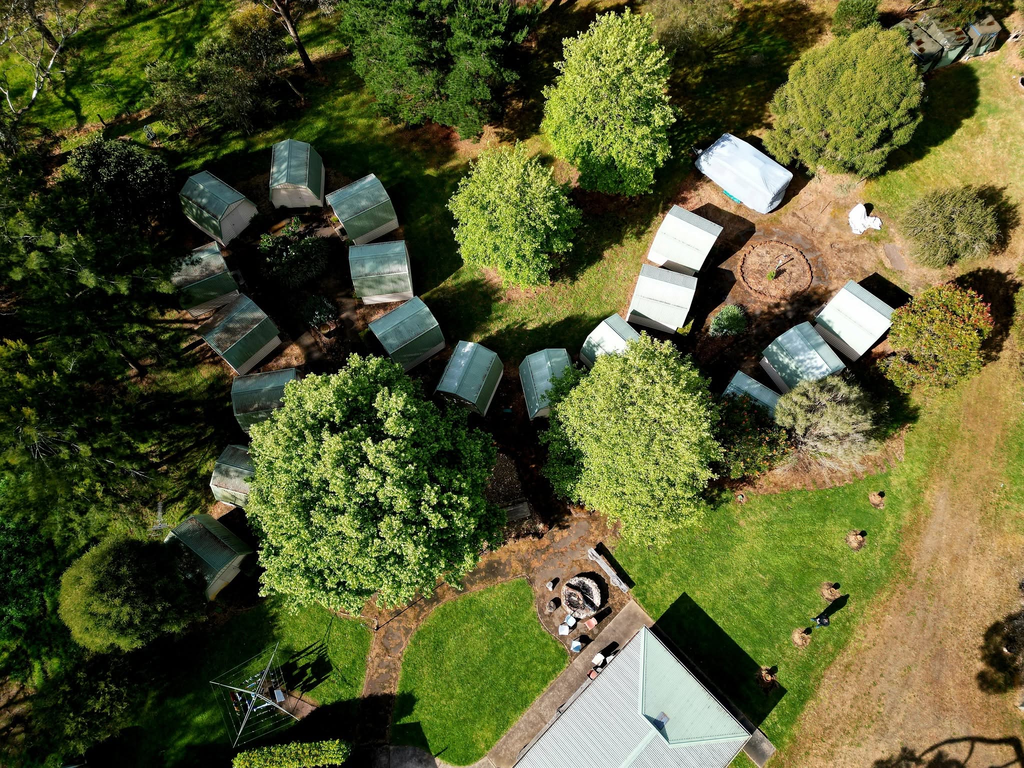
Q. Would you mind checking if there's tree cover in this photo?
Yes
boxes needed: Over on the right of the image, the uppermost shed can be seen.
[650,204,723,276]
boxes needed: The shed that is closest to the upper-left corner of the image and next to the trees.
[179,170,260,246]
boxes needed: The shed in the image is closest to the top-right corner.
[811,279,900,359]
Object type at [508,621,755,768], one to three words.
building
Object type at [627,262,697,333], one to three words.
shed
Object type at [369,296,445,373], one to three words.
shed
